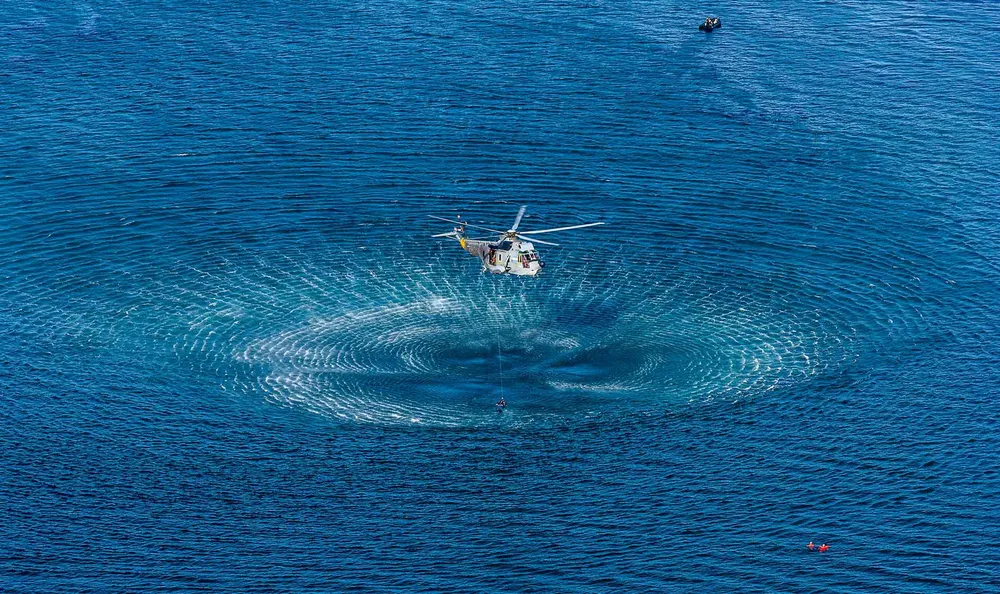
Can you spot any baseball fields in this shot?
No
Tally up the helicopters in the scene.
1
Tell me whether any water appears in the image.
Yes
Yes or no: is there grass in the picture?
No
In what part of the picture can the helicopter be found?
center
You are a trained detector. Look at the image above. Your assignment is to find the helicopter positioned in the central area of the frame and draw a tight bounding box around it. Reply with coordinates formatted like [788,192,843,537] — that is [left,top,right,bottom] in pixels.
[429,204,604,398]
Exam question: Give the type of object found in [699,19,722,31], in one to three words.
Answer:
boat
